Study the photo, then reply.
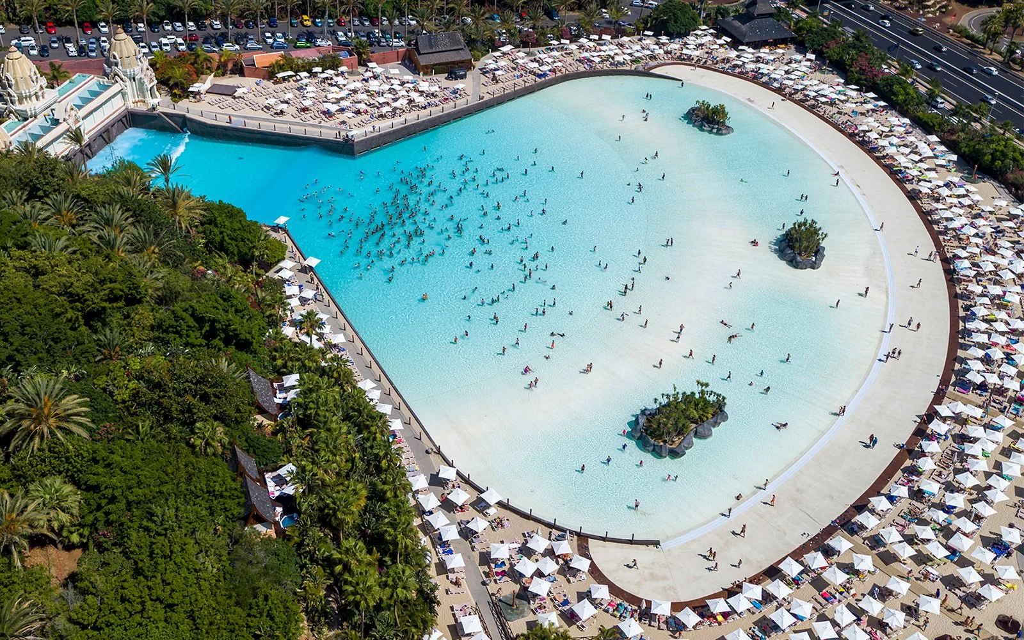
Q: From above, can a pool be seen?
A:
Yes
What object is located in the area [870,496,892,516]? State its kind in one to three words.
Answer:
umbrella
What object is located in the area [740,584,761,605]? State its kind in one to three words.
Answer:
umbrella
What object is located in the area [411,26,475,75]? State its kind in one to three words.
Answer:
building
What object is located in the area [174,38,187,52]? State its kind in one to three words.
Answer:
vehicle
